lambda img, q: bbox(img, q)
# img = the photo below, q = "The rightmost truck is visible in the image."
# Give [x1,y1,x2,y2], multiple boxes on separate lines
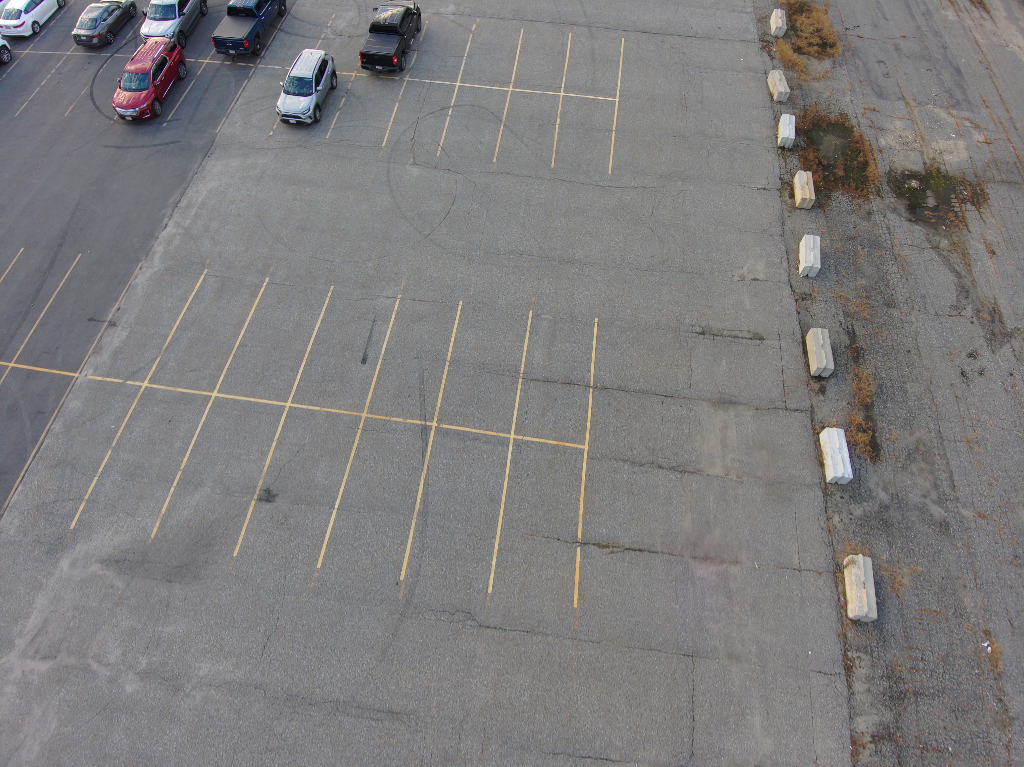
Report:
[361,0,423,77]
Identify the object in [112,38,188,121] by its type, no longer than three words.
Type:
car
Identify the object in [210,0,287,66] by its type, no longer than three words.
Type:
truck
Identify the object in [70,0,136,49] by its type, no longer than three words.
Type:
car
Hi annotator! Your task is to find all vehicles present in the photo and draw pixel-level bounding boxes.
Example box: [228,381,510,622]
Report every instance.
[70,0,136,49]
[210,0,287,66]
[0,37,12,64]
[361,0,423,77]
[0,0,64,39]
[112,38,188,121]
[139,0,211,50]
[276,48,336,127]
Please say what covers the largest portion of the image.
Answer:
paved ground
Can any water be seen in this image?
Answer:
No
